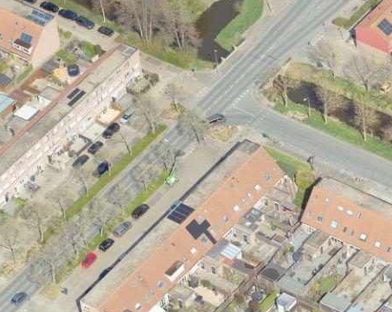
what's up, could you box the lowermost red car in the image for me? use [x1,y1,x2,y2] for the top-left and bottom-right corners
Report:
[80,253,97,268]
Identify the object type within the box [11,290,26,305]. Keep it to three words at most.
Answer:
car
